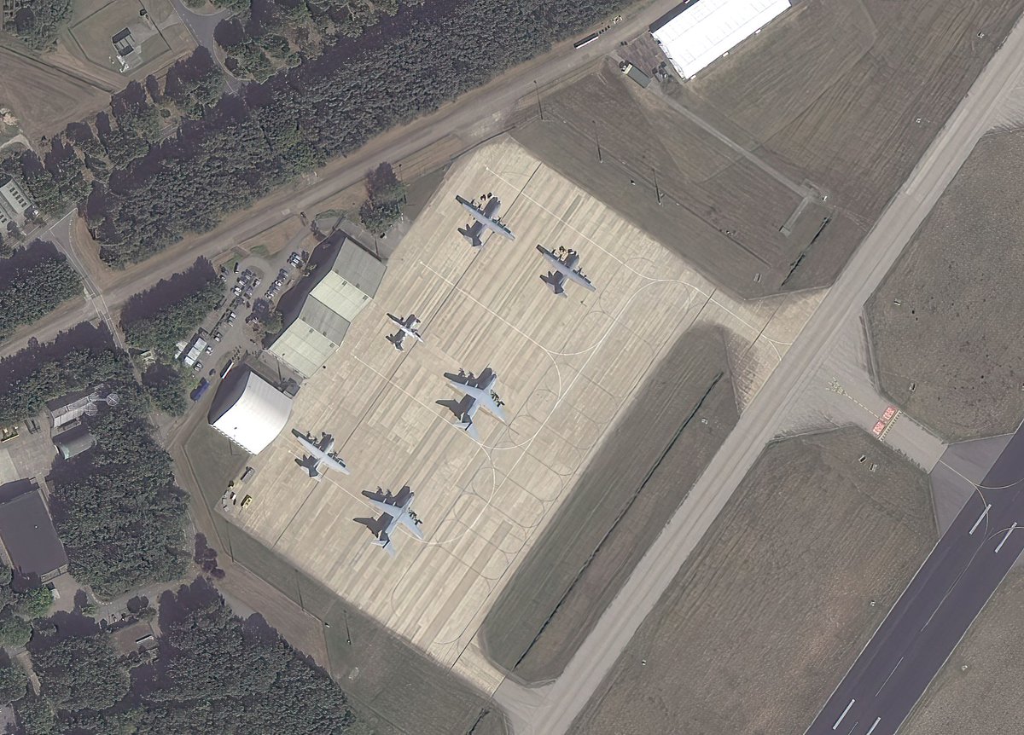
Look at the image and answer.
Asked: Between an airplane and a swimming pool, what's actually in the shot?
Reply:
airplane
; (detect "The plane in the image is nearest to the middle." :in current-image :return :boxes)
[449,375,506,441]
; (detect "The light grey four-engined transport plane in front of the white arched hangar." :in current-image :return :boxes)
[296,436,351,484]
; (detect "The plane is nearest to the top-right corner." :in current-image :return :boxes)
[542,252,598,300]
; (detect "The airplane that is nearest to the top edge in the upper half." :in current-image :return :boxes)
[461,201,517,249]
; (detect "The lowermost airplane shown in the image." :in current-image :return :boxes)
[367,491,424,559]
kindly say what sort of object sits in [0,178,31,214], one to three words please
building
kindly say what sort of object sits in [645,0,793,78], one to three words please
hangar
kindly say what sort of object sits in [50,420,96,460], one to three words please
shed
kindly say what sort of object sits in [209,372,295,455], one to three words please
hangar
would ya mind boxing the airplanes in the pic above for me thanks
[367,491,424,559]
[461,201,517,249]
[542,252,598,300]
[449,375,506,441]
[390,319,425,350]
[296,436,351,484]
